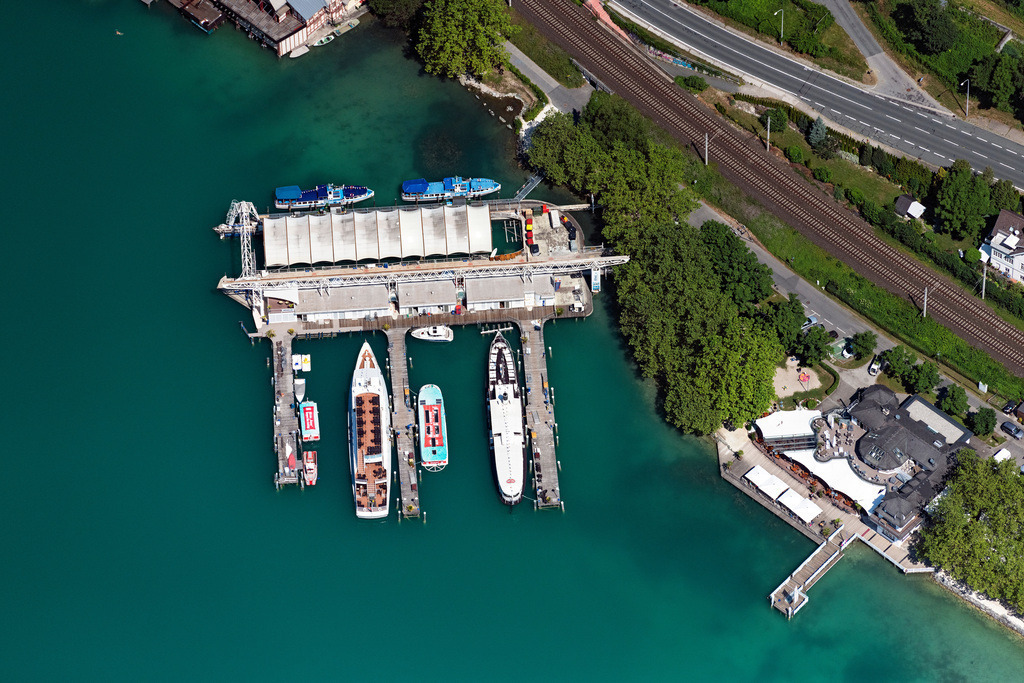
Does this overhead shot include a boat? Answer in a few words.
Yes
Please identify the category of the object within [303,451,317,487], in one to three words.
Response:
boat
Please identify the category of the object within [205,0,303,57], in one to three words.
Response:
building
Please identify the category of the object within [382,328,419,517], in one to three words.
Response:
pier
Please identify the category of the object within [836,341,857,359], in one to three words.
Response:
car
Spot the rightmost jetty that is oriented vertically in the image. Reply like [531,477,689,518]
[514,319,559,508]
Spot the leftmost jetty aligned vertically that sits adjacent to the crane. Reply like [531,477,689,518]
[262,336,300,484]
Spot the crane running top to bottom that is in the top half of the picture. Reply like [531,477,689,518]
[224,197,261,303]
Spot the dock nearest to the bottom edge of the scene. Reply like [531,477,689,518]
[770,541,845,623]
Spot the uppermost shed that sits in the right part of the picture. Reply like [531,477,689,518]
[896,193,926,219]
